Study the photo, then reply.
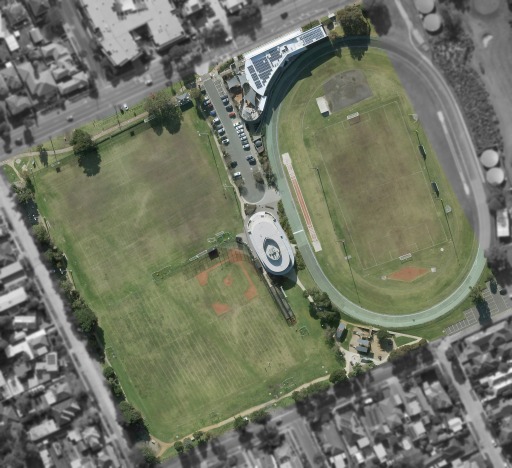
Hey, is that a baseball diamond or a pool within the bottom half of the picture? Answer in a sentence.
You can see a baseball diamond within the bottom half of the picture.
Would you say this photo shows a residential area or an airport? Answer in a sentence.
This looks like a residential area.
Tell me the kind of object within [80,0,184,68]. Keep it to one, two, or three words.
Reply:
building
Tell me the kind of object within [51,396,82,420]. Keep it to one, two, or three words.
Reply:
house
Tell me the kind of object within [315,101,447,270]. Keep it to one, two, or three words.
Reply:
soccer field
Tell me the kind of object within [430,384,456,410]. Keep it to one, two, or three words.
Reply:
house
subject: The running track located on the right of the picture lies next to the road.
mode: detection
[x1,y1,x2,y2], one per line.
[262,34,494,329]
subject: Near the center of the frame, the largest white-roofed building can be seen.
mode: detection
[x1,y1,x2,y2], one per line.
[244,212,294,274]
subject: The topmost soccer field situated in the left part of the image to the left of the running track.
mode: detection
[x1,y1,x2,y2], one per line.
[33,114,241,308]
